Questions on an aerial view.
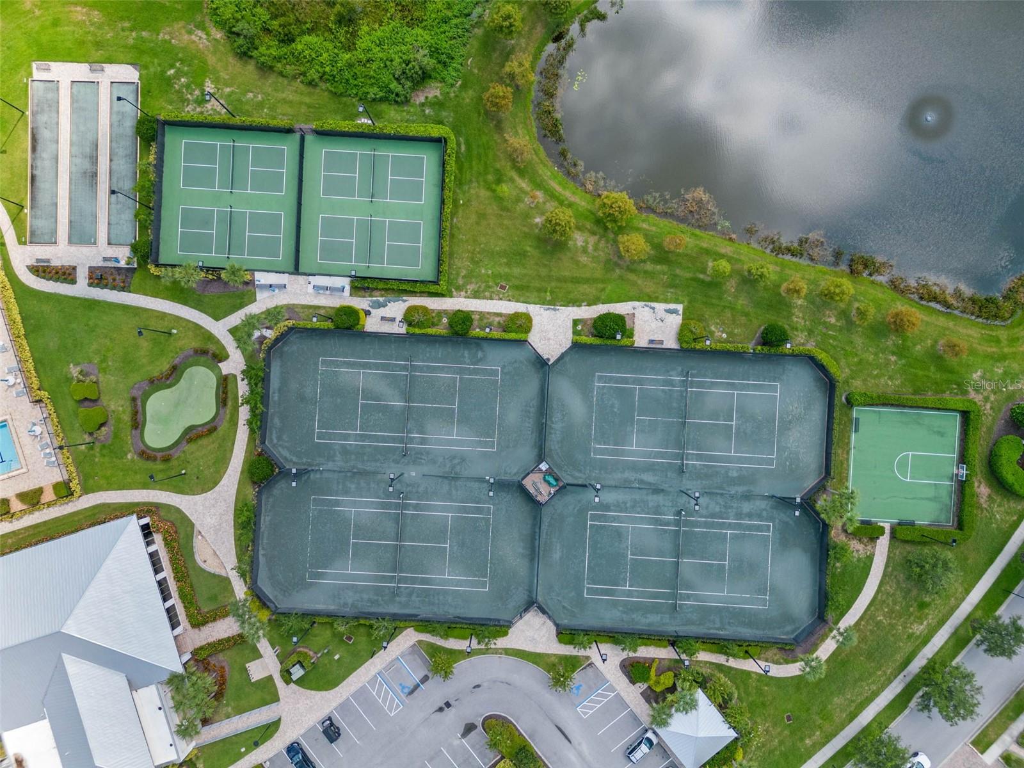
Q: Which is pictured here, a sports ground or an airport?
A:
sports ground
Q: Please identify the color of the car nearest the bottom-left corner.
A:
blue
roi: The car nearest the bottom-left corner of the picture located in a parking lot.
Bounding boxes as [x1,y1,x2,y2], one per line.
[287,743,317,768]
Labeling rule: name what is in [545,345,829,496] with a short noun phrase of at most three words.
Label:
tennis court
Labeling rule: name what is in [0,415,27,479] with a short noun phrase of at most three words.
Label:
swimming pool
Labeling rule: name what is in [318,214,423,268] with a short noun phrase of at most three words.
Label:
sports court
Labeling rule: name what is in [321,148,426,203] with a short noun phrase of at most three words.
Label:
sports court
